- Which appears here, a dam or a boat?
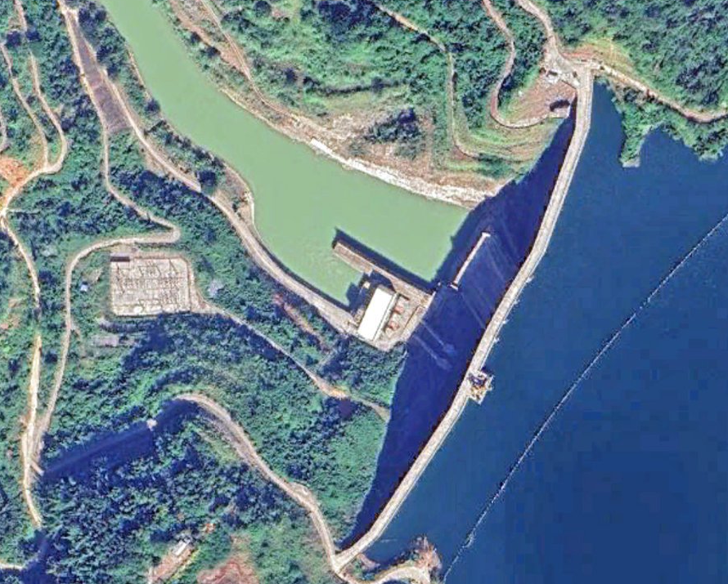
dam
